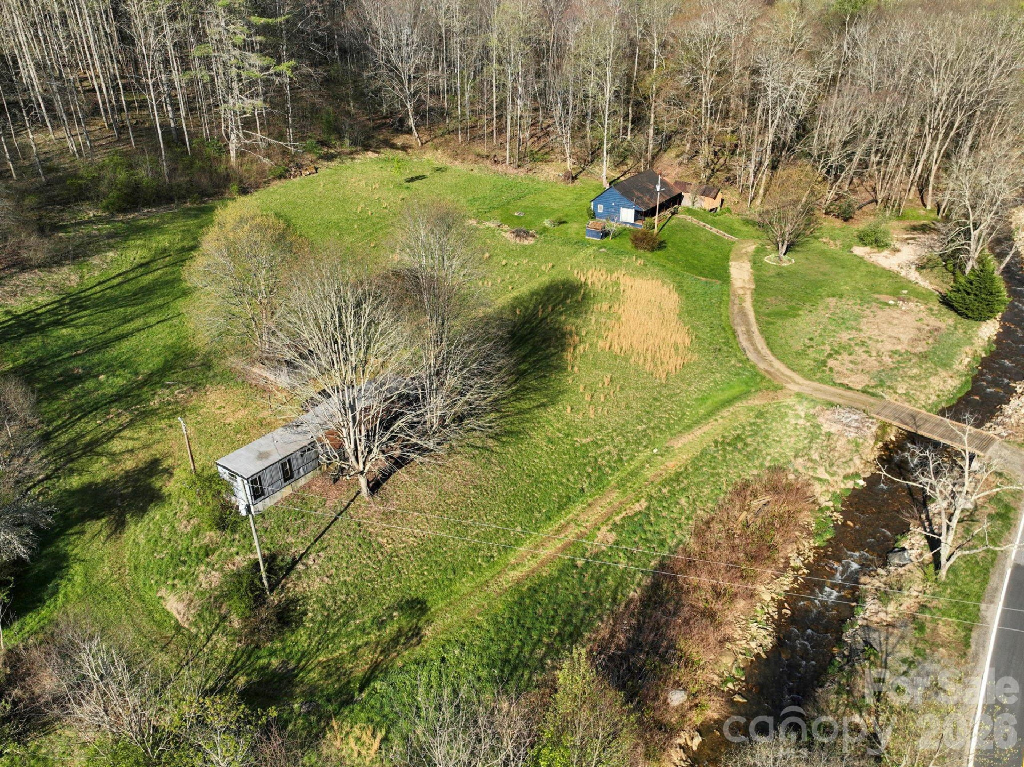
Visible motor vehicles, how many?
0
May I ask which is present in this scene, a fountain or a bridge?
bridge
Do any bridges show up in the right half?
Yes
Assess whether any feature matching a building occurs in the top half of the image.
Yes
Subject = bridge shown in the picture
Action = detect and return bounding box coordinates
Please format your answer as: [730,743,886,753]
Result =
[862,398,1006,467]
